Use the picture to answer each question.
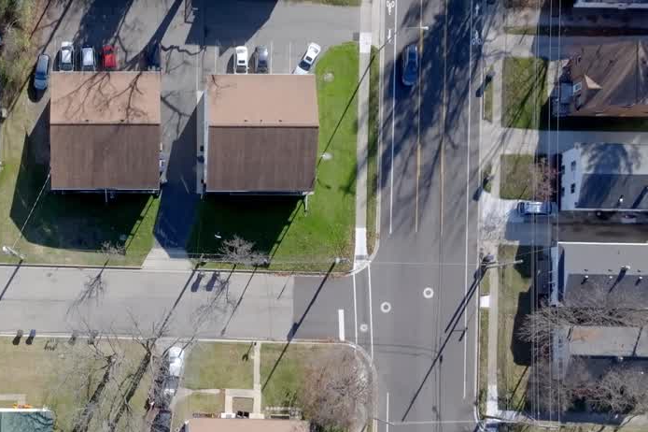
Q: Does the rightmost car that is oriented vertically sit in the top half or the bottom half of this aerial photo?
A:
top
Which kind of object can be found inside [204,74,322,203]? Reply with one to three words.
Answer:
building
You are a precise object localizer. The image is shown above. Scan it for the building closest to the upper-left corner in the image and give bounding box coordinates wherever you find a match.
[48,71,161,202]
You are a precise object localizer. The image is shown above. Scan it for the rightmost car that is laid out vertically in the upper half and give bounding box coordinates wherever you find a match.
[400,44,420,86]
